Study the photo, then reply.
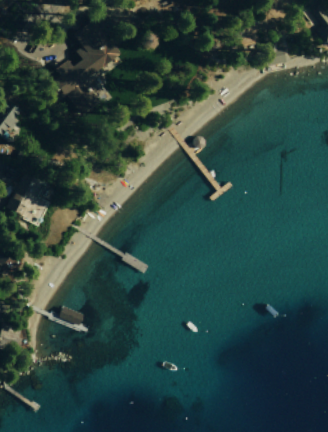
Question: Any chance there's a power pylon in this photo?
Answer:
No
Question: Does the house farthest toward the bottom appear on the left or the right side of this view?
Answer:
left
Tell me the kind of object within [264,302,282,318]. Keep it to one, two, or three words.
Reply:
boat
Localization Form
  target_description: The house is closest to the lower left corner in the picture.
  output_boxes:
[0,326,24,350]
